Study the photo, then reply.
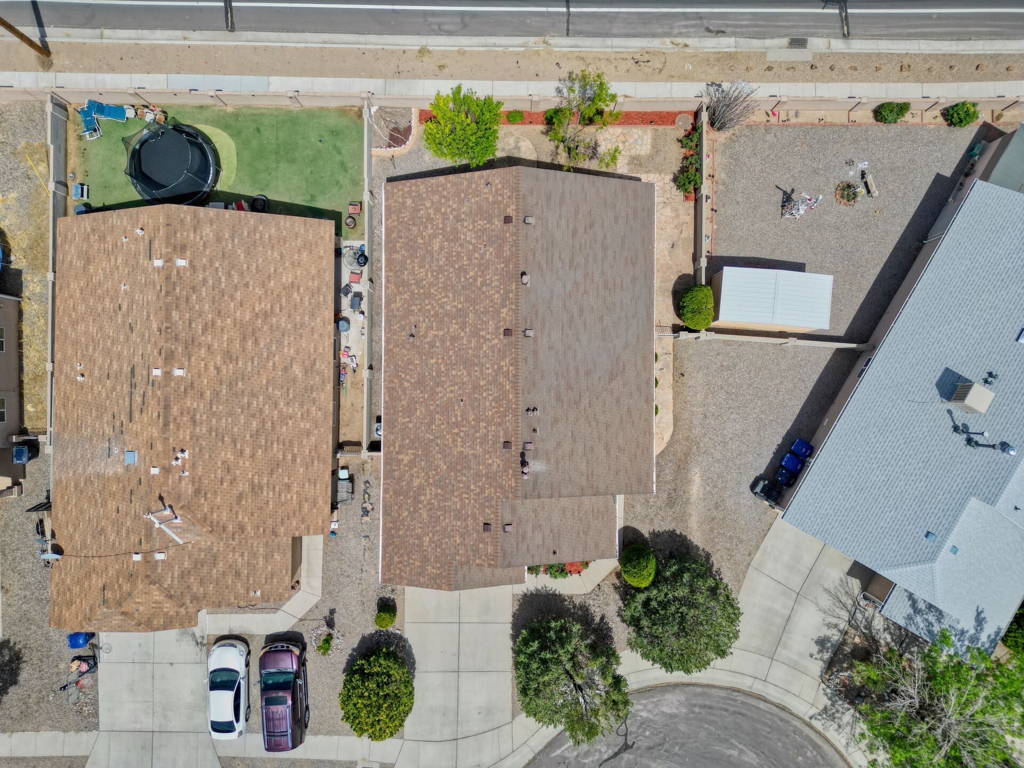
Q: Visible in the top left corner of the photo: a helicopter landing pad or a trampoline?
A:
trampoline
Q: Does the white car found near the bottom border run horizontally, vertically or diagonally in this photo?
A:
vertically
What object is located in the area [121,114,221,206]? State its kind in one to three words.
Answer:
trampoline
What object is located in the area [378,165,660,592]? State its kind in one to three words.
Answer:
house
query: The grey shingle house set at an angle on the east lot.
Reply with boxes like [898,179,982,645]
[775,120,1024,646]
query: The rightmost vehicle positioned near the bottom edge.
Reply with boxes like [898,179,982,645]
[256,638,309,748]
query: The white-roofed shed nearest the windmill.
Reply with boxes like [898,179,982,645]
[712,266,833,333]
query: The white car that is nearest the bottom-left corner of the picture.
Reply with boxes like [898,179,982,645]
[202,637,254,740]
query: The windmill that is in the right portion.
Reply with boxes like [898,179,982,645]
[781,195,823,220]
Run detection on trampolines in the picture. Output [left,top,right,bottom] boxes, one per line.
[0,227,14,291]
[121,114,221,206]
